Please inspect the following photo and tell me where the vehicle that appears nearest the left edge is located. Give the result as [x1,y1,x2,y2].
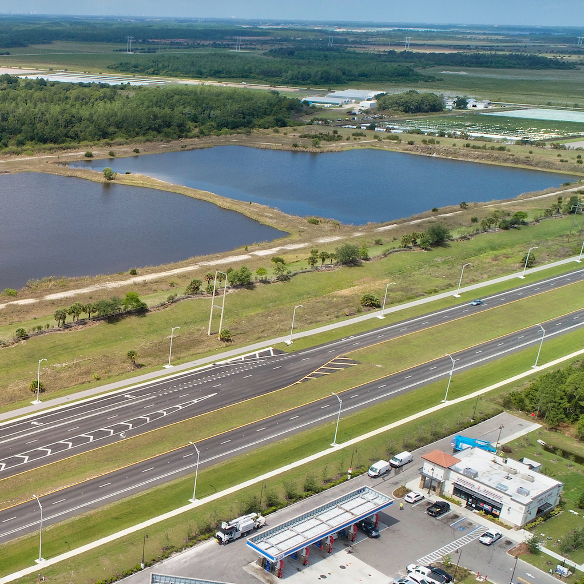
[218,513,257,543]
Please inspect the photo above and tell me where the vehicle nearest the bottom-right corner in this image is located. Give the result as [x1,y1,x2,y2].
[479,527,506,543]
